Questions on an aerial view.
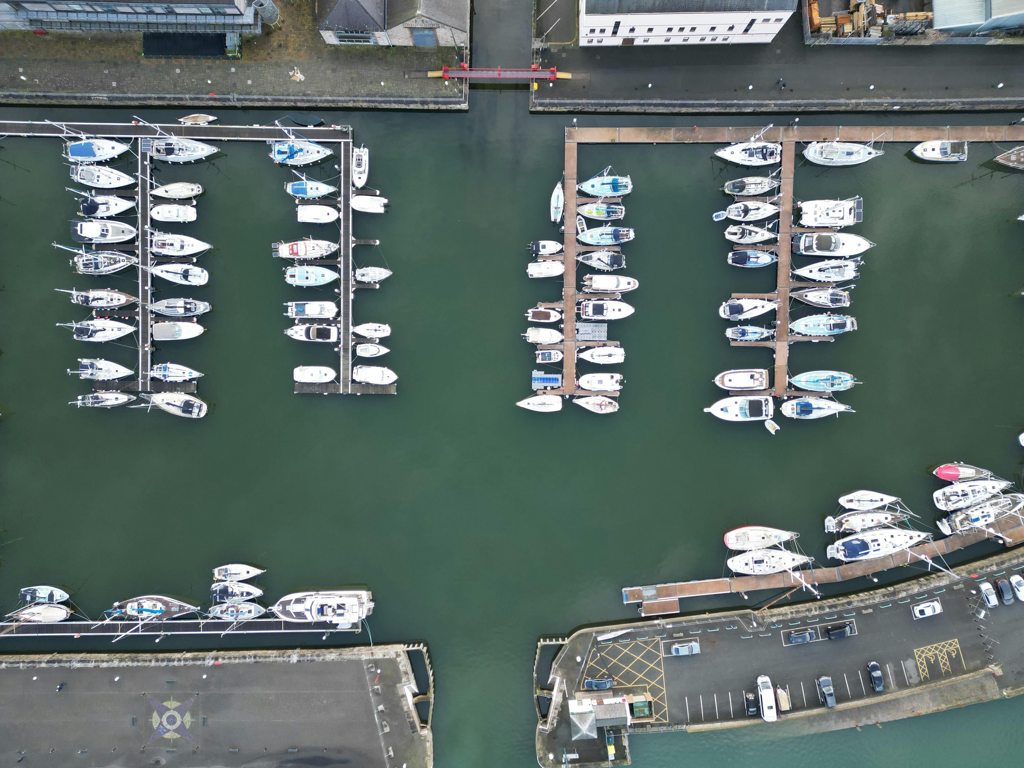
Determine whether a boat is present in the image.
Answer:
Yes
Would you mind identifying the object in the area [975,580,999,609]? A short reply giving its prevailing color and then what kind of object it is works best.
white car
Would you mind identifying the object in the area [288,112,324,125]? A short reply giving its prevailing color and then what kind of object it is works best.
blue boat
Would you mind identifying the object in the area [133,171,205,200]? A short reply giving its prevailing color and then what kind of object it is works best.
white boat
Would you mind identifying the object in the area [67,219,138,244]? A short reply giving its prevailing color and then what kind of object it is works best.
white boat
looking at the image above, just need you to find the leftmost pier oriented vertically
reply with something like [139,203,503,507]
[139,138,152,391]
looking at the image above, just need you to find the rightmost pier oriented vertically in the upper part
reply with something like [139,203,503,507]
[774,141,795,396]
